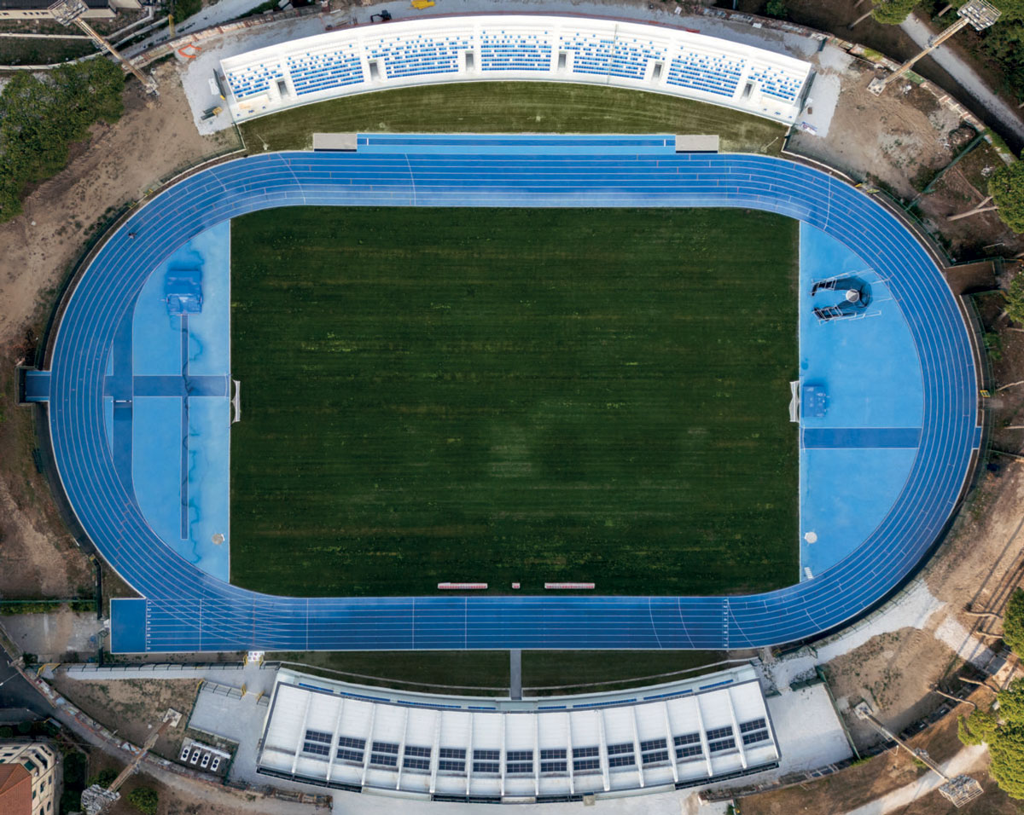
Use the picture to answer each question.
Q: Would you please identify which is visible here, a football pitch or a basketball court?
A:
football pitch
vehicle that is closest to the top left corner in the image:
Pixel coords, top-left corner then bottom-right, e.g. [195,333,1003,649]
[366,6,392,26]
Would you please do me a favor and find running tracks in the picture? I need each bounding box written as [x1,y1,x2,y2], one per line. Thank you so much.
[50,152,979,652]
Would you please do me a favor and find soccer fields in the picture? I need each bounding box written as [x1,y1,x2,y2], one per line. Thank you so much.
[230,208,801,596]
